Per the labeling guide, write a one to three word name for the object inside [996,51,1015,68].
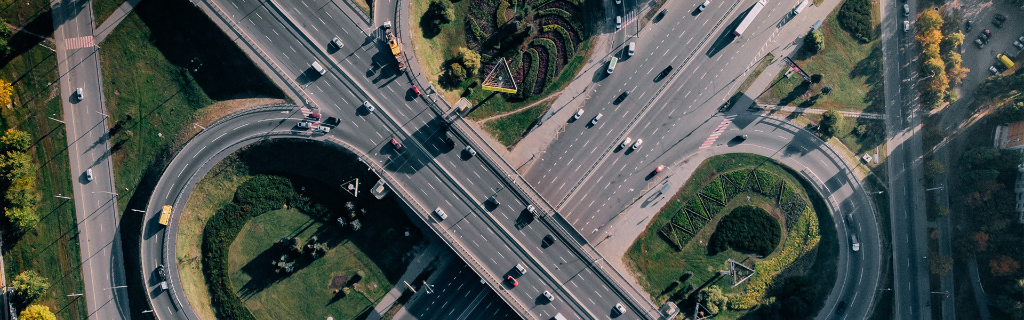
vehicle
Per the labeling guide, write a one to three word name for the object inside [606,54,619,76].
vehicle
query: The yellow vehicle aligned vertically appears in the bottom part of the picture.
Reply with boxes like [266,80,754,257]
[158,205,170,226]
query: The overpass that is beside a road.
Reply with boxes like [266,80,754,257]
[192,0,666,320]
